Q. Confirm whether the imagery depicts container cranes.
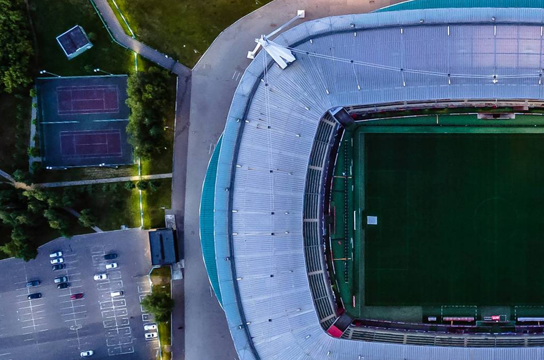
No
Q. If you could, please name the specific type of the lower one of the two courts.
tennis court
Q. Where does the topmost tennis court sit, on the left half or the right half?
left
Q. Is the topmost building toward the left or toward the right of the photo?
left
